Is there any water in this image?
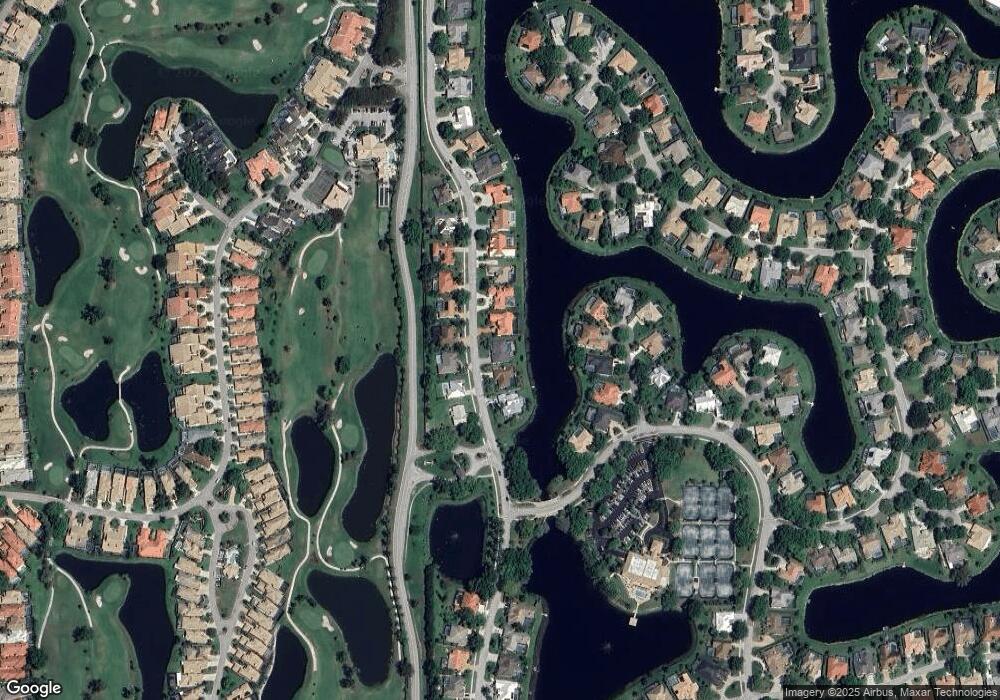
Yes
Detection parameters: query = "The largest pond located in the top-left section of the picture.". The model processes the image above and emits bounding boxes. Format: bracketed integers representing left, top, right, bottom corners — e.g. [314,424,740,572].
[97,51,278,181]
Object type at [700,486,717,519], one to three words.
tennis court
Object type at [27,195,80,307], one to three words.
pond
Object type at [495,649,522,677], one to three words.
house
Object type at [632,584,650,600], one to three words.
swimming pool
